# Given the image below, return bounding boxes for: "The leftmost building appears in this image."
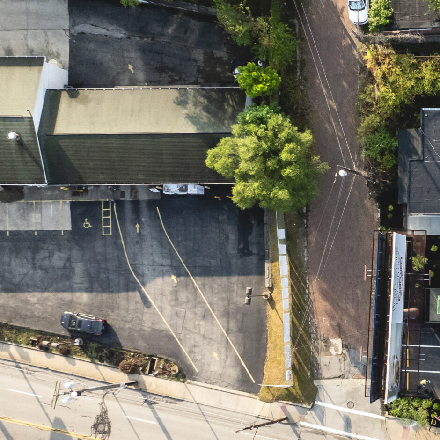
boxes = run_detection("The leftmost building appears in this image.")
[0,53,269,190]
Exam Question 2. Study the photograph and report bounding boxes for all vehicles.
[348,0,370,28]
[61,311,109,335]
